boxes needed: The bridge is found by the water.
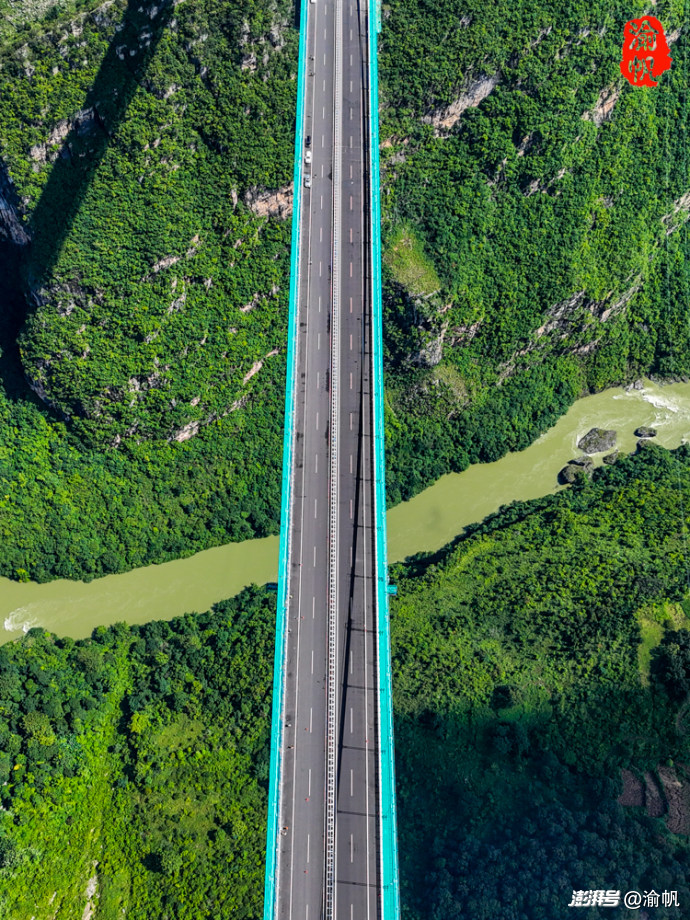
[262,0,399,920]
